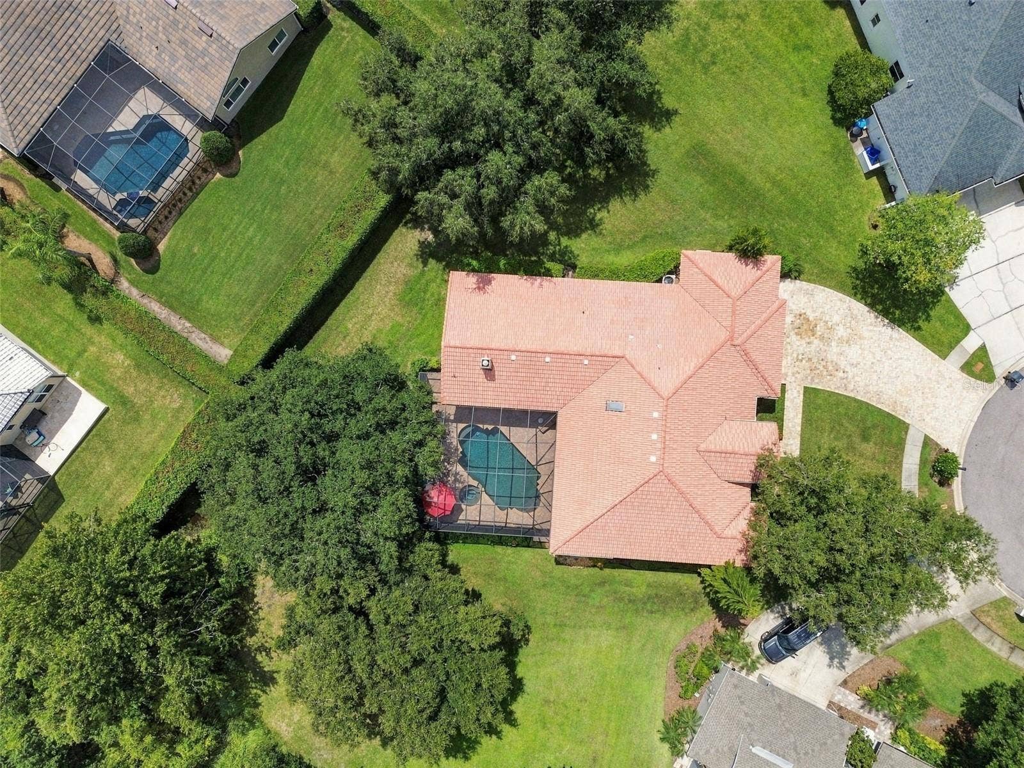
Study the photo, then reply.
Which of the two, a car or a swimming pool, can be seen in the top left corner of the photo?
swimming pool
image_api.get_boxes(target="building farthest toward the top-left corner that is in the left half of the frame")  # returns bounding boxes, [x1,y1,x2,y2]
[0,0,304,155]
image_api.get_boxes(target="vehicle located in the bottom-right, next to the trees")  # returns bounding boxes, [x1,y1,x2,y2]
[756,608,828,662]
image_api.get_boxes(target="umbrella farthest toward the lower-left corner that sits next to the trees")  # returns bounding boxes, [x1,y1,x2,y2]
[424,482,459,518]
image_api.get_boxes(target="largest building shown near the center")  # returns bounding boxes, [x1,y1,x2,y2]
[439,249,788,566]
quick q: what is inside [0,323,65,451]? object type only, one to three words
house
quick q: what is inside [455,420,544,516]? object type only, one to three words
swimming pool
